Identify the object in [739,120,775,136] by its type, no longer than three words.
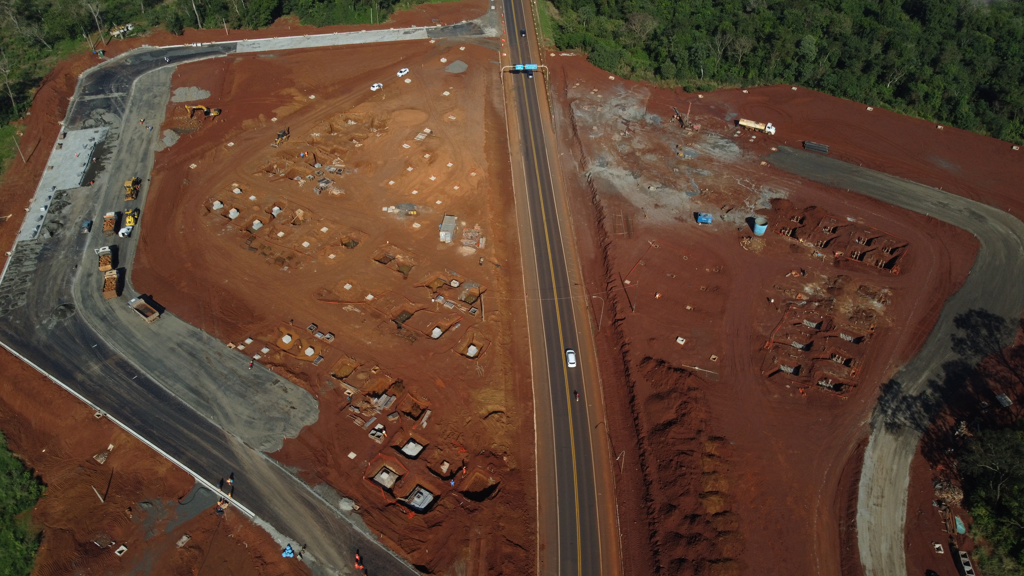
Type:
vehicle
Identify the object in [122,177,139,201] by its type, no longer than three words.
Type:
work vehicle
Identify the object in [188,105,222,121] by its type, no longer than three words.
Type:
work vehicle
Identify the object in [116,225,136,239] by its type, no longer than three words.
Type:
vehicle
